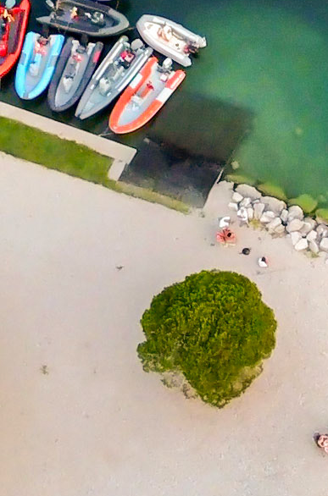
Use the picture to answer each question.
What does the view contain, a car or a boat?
boat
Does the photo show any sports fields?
No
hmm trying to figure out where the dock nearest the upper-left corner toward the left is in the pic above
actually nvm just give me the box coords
[0,102,138,180]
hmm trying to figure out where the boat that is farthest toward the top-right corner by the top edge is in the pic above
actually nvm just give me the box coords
[135,15,207,64]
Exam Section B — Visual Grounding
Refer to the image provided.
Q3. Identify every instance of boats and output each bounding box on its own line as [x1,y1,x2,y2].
[135,15,207,64]
[75,37,152,119]
[40,0,130,33]
[48,38,103,110]
[109,58,183,132]
[19,30,64,100]
[0,0,29,77]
